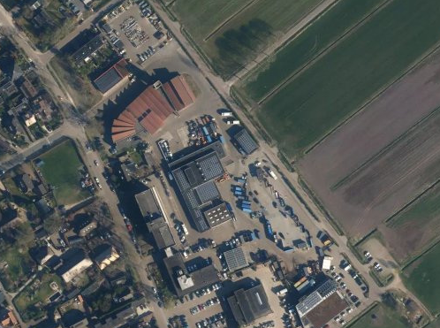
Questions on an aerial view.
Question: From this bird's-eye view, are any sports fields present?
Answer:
Yes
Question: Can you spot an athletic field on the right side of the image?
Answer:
No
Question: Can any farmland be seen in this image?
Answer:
Yes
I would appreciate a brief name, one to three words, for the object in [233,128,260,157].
building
